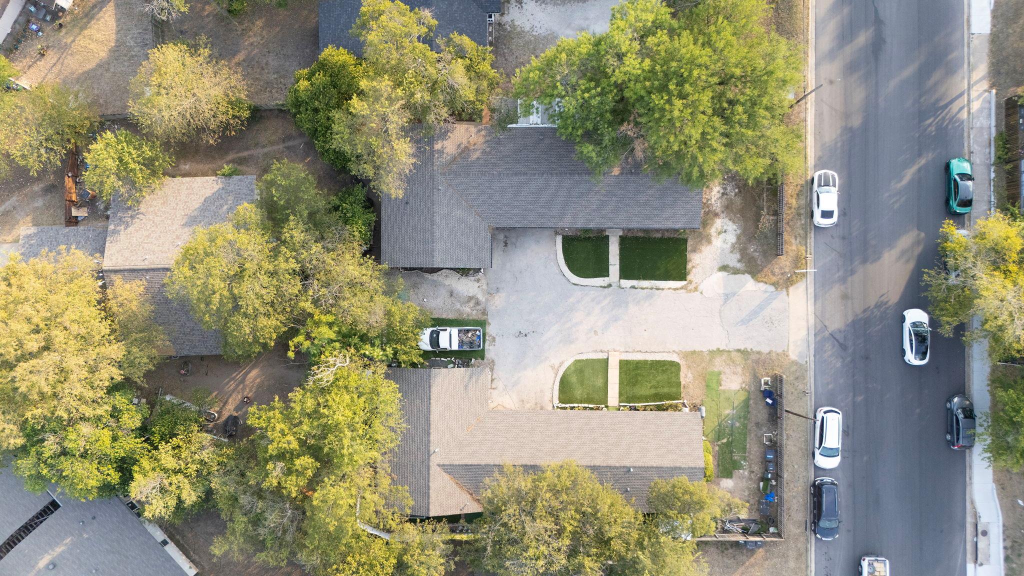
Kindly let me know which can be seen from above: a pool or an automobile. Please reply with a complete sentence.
This aerial view contains an automobile.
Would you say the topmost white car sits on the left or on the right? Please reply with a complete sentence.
It is on the right.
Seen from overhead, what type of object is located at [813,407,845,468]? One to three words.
car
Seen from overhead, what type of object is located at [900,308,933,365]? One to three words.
car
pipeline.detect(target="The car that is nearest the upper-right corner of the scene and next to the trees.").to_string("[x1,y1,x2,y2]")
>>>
[943,157,976,214]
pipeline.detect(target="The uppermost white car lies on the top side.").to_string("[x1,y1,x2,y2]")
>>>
[811,169,842,227]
